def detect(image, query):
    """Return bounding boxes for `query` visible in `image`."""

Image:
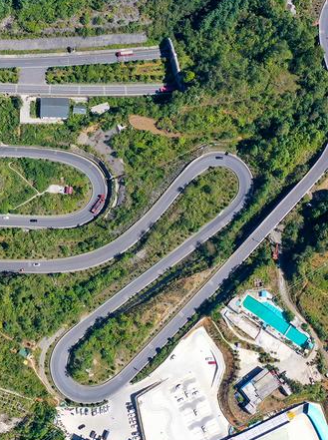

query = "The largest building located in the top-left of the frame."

[40,98,69,118]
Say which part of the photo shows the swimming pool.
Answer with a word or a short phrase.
bottom right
